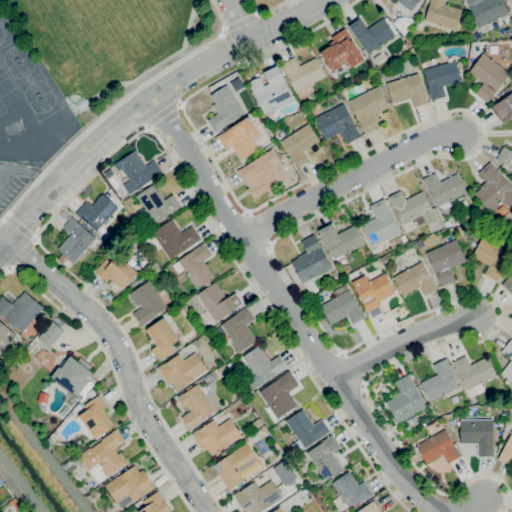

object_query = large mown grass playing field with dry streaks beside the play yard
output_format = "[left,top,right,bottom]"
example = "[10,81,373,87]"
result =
[10,0,190,99]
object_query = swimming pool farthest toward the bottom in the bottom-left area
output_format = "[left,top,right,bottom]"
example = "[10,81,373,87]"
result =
[62,420,81,440]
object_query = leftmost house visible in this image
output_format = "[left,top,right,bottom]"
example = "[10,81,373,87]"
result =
[0,293,44,333]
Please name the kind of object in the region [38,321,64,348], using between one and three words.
building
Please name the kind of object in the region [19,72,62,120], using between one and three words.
basketball court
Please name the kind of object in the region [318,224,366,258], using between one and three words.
house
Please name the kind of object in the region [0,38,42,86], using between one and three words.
basketball court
